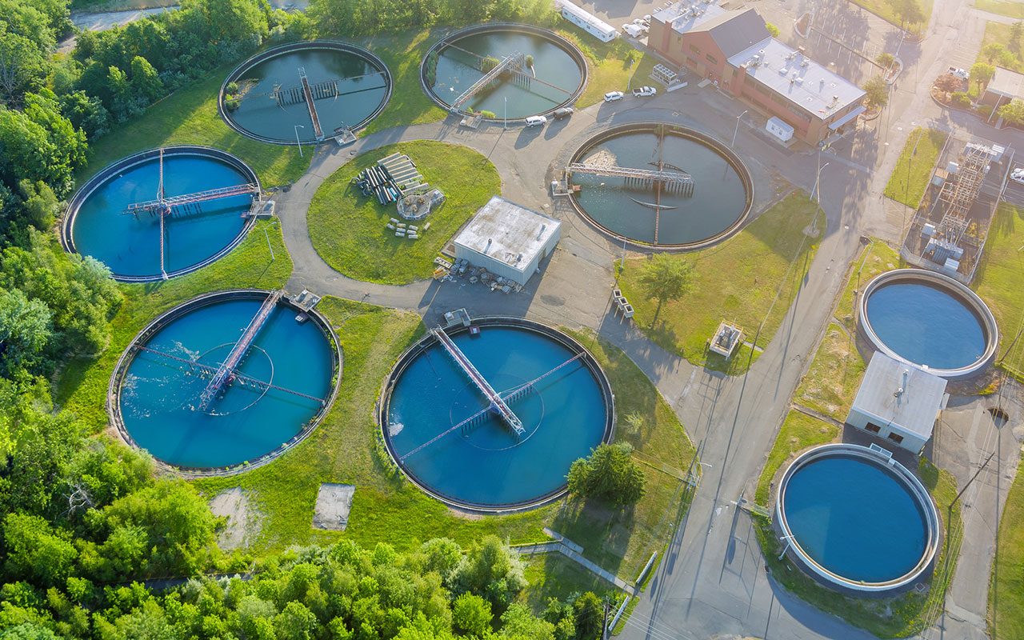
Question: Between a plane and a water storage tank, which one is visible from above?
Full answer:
There is a water storage tank in the scene.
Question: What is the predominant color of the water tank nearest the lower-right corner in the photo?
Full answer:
From above, the water tank nearest the lower-right corner appears blue.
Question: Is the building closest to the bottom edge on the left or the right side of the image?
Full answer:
You can find the building closest to the bottom edge on the right side of the picture.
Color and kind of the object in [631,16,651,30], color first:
white vehicle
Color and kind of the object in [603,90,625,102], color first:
white vehicle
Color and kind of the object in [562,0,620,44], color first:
white trailer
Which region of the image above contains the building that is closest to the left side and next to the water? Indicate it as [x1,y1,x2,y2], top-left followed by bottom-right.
[453,194,562,287]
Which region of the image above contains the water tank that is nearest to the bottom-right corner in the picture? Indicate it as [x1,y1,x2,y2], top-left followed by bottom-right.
[772,439,942,596]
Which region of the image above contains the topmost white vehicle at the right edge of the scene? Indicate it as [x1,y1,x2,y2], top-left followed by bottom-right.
[947,64,973,81]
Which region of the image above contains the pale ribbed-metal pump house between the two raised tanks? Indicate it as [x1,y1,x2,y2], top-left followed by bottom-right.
[844,349,950,455]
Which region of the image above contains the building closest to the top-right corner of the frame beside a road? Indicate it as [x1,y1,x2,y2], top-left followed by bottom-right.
[978,69,1024,133]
